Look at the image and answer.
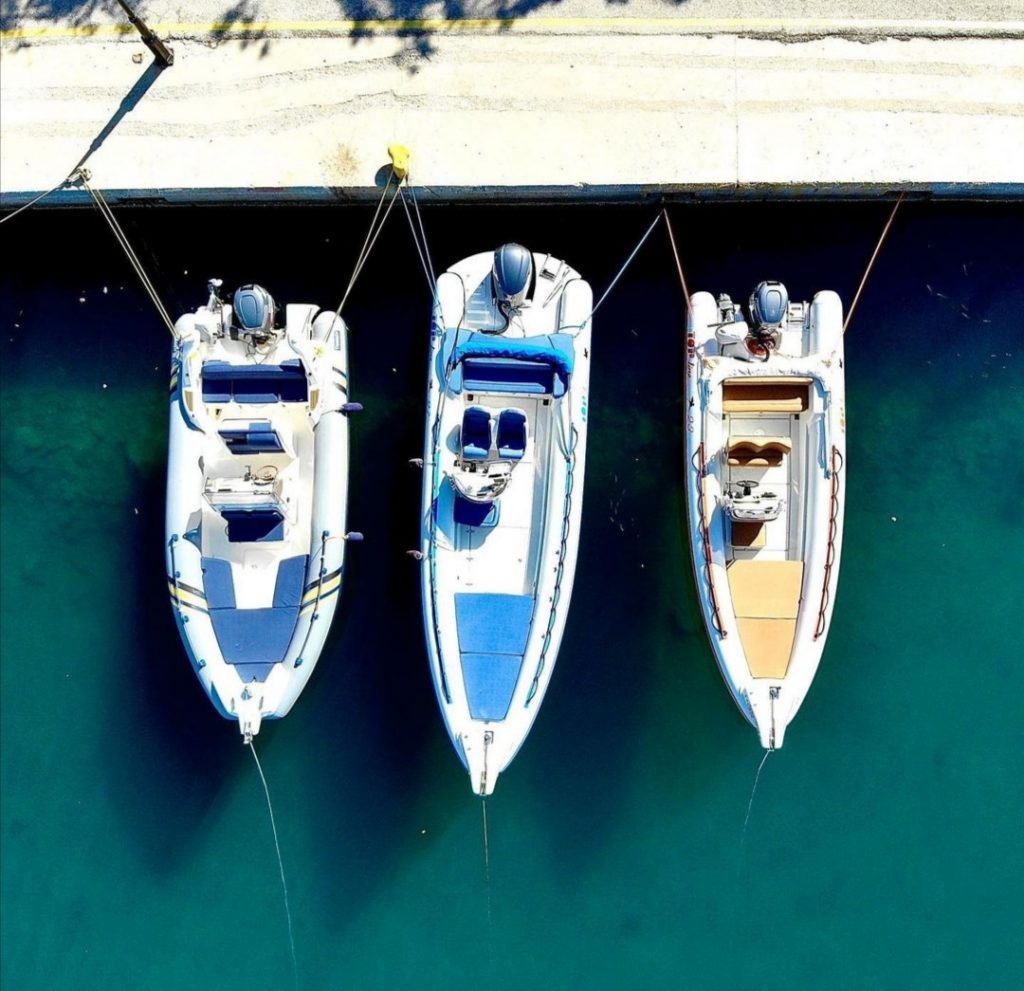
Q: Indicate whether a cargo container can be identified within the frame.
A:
No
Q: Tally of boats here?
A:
three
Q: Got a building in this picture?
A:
No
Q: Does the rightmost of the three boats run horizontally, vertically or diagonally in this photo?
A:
vertically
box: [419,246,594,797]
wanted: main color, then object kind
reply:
white boat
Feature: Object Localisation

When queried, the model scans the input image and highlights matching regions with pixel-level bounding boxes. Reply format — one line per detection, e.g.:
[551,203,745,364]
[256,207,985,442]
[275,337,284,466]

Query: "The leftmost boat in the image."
[167,279,351,743]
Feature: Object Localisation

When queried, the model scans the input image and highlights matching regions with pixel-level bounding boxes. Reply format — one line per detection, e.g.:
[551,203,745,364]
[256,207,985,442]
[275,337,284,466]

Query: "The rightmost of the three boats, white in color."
[682,282,847,751]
